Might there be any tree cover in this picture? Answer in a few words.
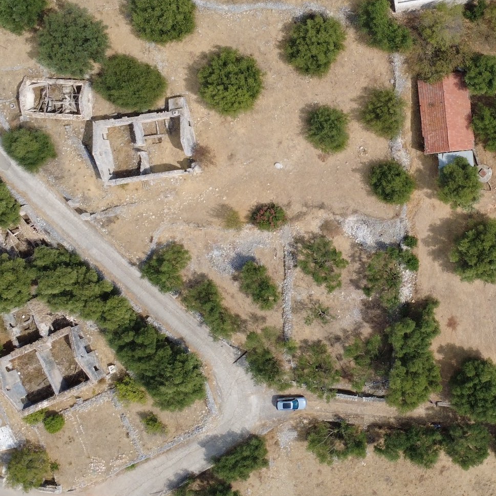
Yes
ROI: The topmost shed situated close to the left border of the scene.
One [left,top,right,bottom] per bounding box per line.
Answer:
[19,77,99,120]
